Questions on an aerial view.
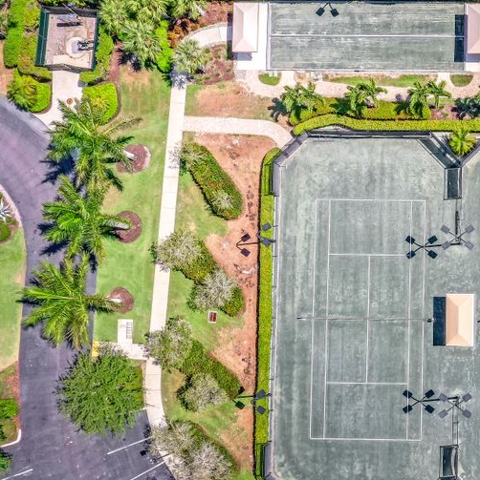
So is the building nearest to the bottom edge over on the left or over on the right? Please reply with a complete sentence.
The building nearest to the bottom edge is on the right side of the image.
